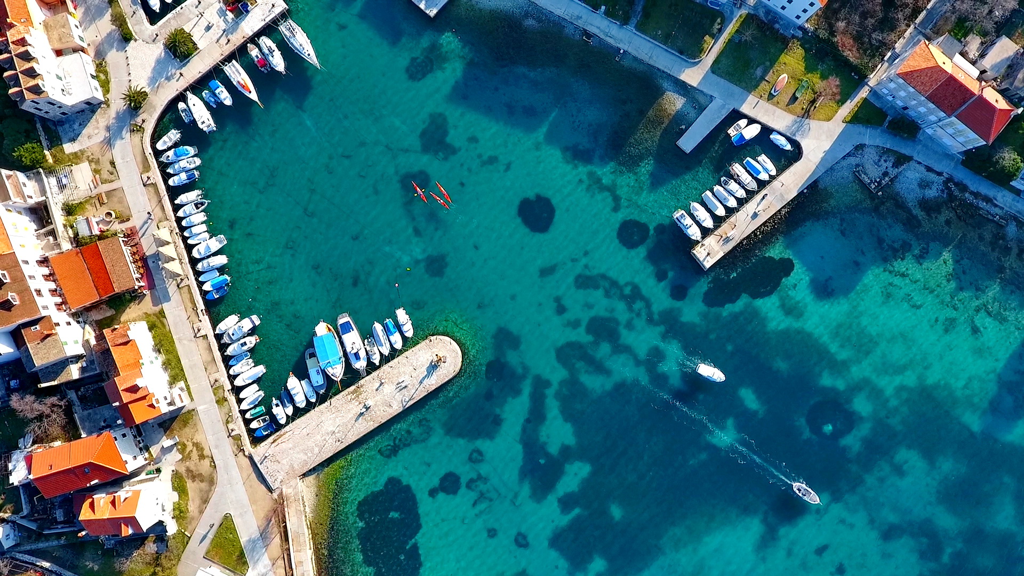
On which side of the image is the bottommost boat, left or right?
right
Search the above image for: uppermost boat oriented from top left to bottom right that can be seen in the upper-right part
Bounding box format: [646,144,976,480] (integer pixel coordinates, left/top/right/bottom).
[770,127,794,152]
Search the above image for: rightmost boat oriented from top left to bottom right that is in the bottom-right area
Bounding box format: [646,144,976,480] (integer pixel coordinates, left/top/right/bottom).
[792,481,821,504]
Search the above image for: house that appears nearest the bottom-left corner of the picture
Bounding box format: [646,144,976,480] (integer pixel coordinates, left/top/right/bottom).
[0,515,30,551]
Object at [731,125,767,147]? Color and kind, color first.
white boat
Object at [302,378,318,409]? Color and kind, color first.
blue boat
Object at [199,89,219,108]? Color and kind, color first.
blue boat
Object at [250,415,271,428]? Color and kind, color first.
white boat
